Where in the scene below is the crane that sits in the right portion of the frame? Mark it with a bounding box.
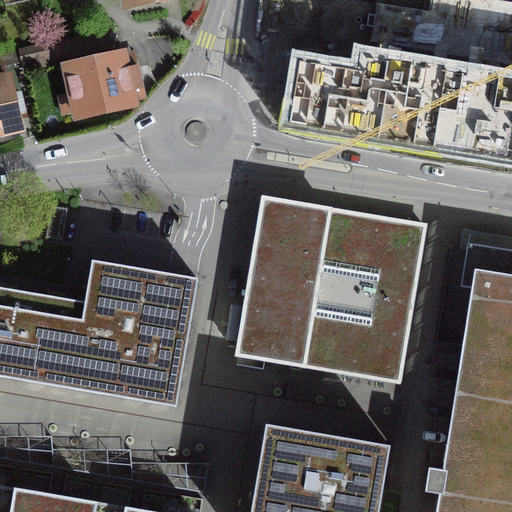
[300,64,512,170]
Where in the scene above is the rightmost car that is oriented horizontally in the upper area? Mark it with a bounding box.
[421,164,446,176]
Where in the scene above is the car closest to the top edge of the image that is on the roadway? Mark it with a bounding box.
[170,76,187,100]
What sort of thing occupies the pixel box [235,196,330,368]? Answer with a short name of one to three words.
building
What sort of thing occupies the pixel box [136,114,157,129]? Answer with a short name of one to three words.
car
